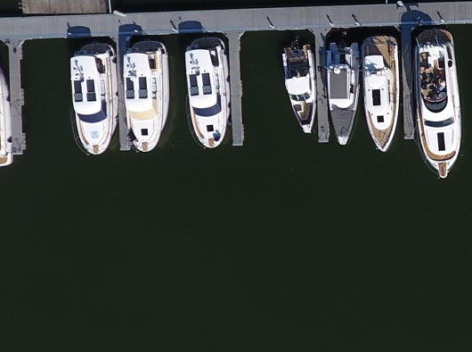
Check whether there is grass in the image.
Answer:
No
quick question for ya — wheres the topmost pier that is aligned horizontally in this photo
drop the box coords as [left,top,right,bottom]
[0,0,472,41]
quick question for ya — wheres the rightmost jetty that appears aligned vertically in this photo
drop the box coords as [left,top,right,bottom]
[393,26,417,139]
